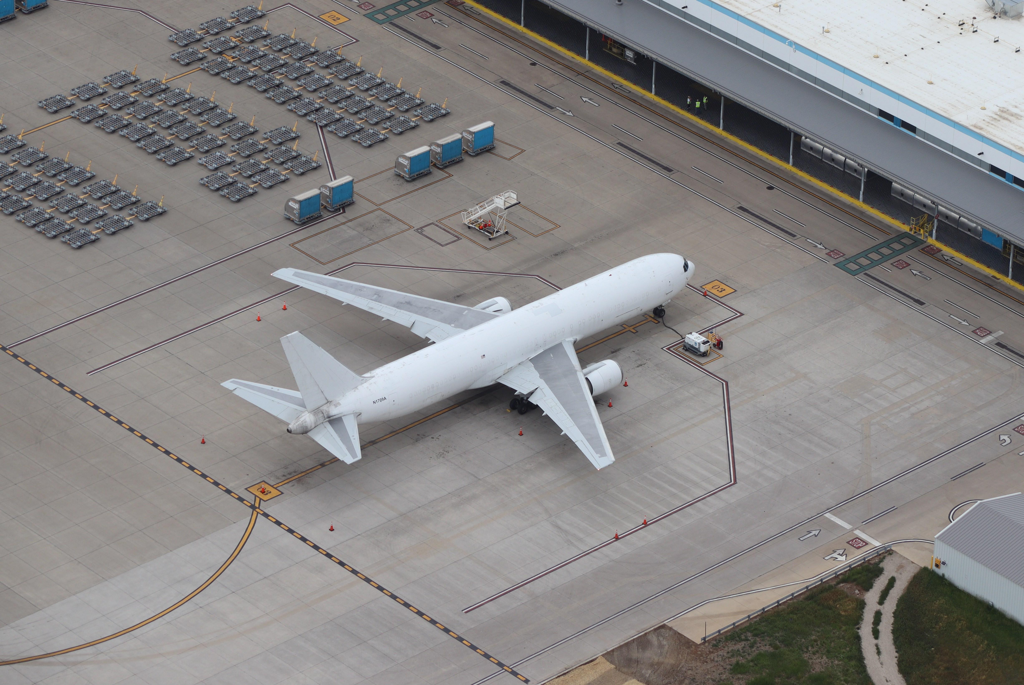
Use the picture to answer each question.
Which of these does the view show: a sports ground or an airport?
airport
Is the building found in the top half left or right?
right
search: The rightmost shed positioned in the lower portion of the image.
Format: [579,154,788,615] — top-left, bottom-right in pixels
[930,490,1024,620]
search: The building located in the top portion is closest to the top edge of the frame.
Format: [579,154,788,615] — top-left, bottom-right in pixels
[463,0,1024,292]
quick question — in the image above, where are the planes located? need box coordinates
[220,252,696,471]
